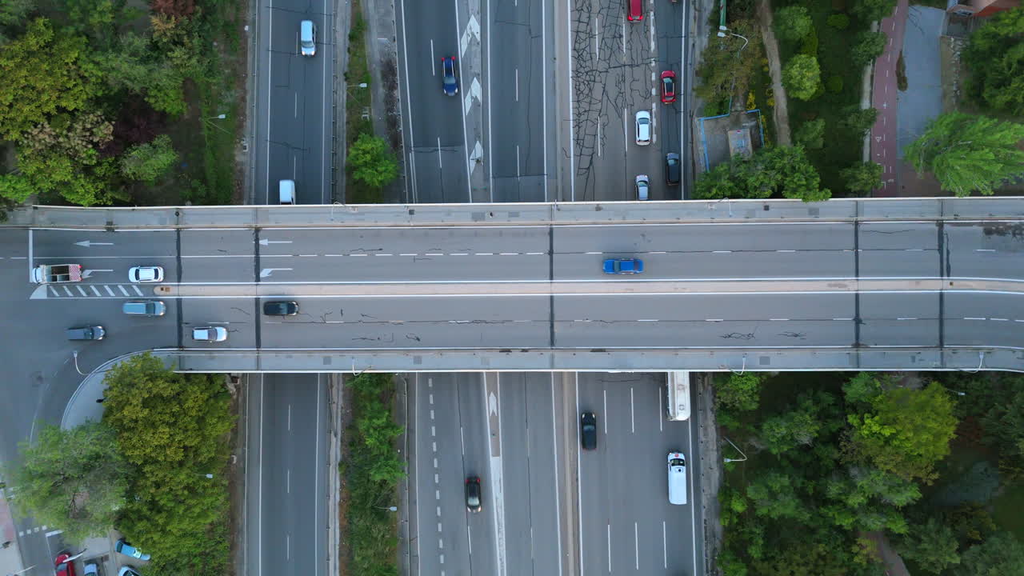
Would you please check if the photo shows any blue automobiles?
Yes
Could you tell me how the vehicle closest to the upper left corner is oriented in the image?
horizontally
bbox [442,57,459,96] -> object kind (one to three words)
car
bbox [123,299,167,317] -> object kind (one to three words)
car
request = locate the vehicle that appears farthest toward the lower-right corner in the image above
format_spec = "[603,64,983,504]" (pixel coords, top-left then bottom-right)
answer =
[666,451,688,506]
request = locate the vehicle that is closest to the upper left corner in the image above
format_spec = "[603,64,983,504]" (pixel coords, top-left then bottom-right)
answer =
[33,264,84,284]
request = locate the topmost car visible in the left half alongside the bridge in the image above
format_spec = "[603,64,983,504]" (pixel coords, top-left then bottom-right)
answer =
[278,177,297,204]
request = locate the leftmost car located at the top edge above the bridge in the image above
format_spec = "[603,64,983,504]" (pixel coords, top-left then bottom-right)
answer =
[299,19,318,58]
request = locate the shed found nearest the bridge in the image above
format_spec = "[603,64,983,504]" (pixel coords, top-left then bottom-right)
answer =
[724,130,752,162]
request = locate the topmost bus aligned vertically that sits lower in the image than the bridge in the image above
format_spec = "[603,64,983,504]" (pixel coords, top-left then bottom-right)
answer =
[666,371,692,423]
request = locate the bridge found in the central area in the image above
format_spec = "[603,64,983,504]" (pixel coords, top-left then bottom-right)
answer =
[32,196,1024,373]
